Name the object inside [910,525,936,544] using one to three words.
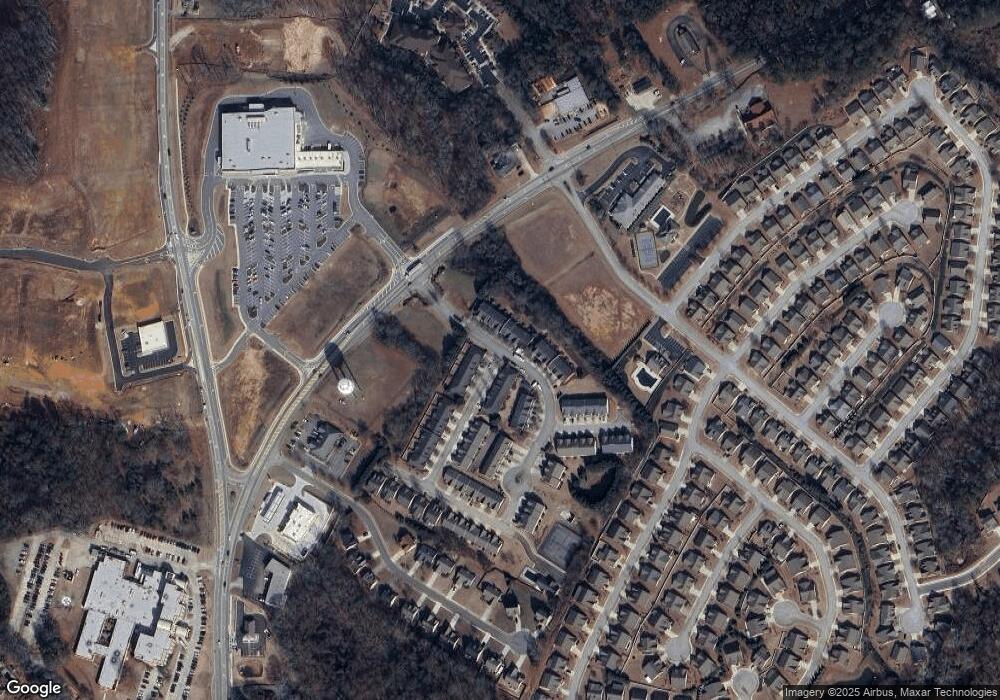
house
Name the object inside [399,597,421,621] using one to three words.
house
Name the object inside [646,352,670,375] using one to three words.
building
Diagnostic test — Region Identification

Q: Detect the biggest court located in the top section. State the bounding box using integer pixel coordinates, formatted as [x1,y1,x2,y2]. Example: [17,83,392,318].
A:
[635,231,658,268]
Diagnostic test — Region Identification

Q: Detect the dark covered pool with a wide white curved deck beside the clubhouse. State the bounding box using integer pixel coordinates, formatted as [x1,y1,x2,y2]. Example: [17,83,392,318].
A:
[631,361,662,393]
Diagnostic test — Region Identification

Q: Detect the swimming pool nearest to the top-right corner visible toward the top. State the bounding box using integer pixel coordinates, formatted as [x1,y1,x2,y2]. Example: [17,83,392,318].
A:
[650,205,675,229]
